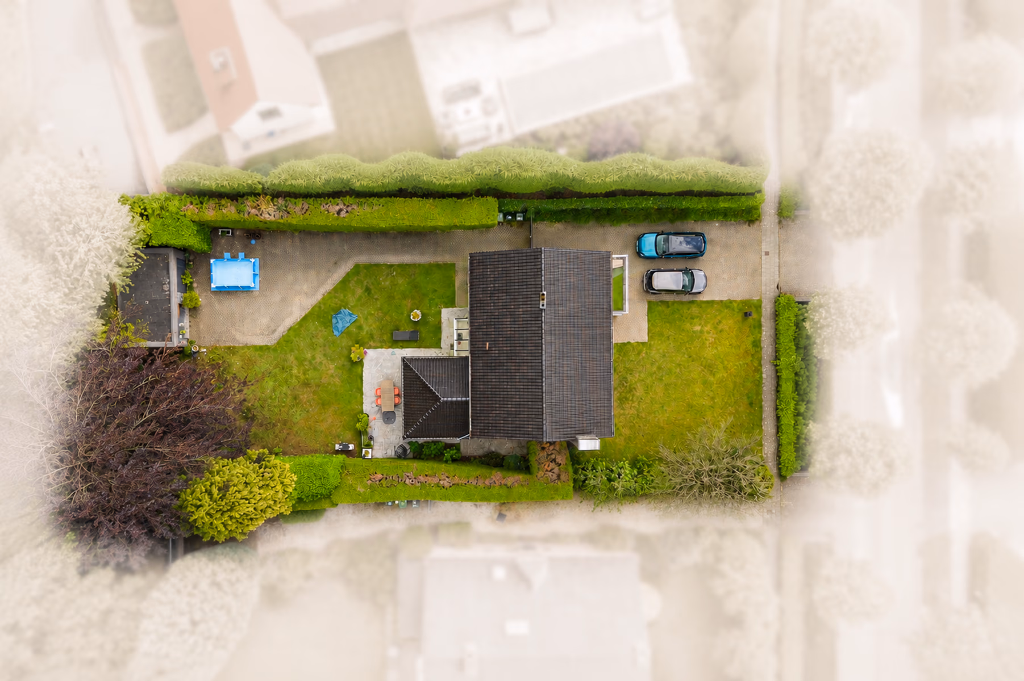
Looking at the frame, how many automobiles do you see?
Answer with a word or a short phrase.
2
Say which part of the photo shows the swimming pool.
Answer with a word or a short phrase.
left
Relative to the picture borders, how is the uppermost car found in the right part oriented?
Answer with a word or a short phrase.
from side to side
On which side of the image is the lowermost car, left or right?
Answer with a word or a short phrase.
right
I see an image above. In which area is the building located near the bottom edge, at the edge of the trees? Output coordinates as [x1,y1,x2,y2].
[399,537,670,681]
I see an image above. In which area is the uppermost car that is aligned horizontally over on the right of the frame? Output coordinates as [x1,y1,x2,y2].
[636,227,707,261]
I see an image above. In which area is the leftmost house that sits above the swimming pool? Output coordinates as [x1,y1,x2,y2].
[186,0,338,131]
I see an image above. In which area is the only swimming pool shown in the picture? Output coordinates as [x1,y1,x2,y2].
[208,253,259,290]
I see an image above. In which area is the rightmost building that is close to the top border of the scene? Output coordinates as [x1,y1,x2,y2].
[410,0,693,153]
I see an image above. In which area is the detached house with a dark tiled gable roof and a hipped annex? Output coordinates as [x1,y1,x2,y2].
[400,247,627,449]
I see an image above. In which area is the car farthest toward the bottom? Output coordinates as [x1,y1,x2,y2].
[643,265,707,297]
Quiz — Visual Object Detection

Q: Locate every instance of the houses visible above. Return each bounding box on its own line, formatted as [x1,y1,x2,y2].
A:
[186,0,338,131]
[399,537,670,681]
[410,0,693,153]
[400,247,627,449]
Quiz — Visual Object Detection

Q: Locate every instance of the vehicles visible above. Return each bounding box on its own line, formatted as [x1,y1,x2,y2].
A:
[643,265,707,297]
[636,227,707,261]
